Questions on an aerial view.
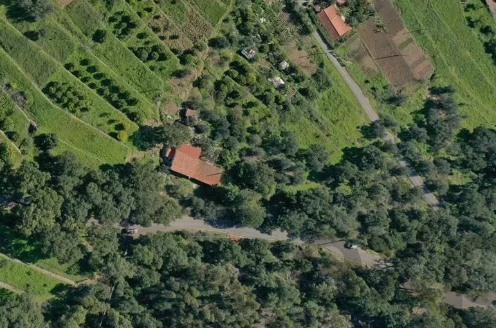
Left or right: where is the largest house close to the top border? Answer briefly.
right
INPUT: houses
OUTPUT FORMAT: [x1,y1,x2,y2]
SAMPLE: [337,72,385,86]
[314,5,351,40]
[170,143,223,186]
